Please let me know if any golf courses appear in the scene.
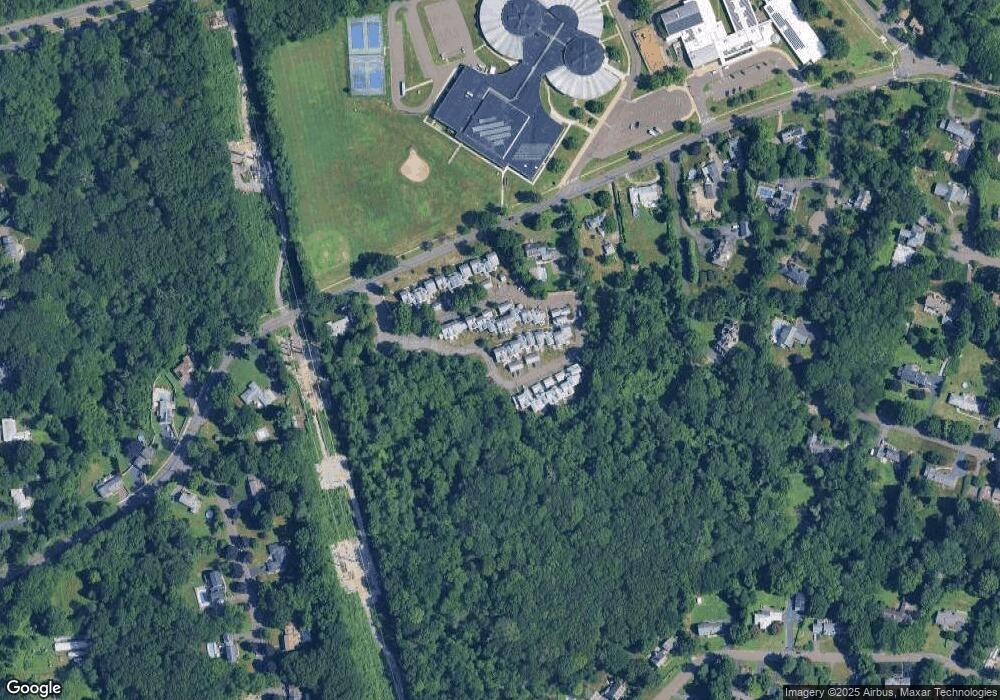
No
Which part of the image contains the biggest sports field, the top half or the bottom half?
top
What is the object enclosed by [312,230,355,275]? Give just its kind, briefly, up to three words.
baseball field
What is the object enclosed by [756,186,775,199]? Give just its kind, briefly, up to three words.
swimming pool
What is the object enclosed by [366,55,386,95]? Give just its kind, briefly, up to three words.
tennis court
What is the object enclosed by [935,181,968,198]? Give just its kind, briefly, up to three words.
house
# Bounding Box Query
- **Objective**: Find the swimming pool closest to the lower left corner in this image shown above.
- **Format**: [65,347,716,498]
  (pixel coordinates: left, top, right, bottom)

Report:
[195,586,209,609]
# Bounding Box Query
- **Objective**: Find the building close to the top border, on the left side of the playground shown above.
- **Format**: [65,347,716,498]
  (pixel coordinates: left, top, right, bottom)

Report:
[434,0,623,183]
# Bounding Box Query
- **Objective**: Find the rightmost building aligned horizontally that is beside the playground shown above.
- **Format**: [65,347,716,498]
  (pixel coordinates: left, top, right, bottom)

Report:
[660,0,827,75]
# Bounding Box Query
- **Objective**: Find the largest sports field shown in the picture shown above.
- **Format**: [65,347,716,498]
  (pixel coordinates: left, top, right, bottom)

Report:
[272,21,502,288]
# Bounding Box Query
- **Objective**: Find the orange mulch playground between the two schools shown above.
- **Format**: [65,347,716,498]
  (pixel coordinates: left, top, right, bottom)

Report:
[633,24,666,70]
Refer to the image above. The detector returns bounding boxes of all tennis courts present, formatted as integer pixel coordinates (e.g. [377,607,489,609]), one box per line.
[347,16,366,56]
[349,56,368,96]
[365,15,384,55]
[366,55,386,95]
